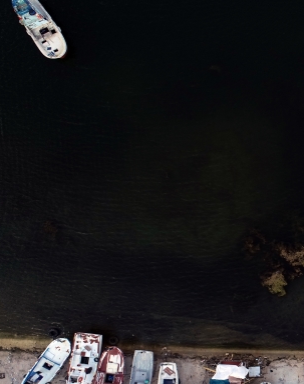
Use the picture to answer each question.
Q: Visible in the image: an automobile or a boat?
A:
boat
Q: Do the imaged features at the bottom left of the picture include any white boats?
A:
Yes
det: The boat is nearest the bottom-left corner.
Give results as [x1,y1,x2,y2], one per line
[20,337,73,384]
